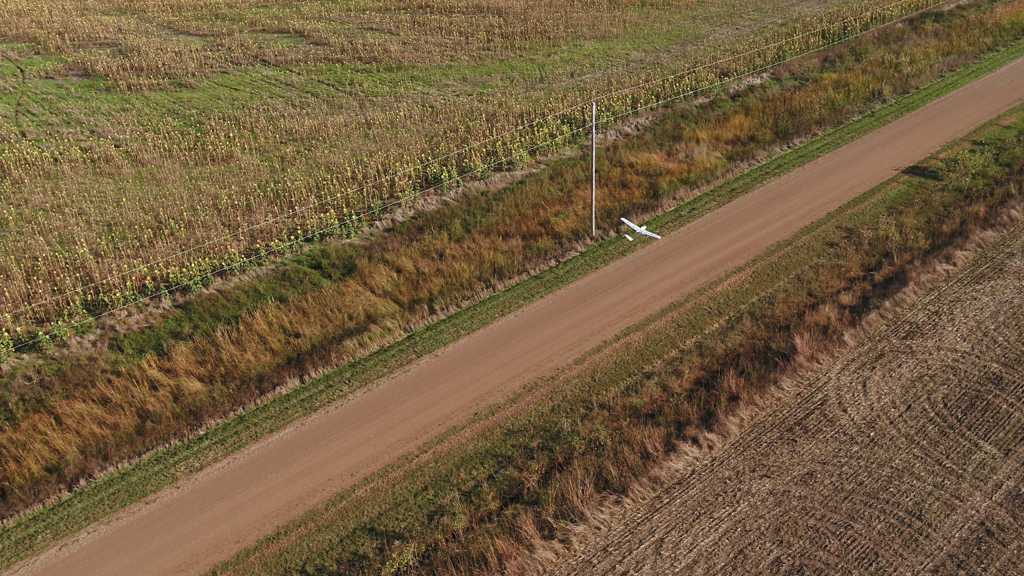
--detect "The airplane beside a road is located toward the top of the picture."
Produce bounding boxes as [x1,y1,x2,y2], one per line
[620,217,661,238]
